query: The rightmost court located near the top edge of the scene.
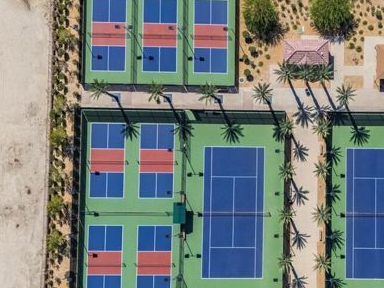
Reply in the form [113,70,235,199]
[186,0,236,85]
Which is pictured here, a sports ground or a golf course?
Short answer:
sports ground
